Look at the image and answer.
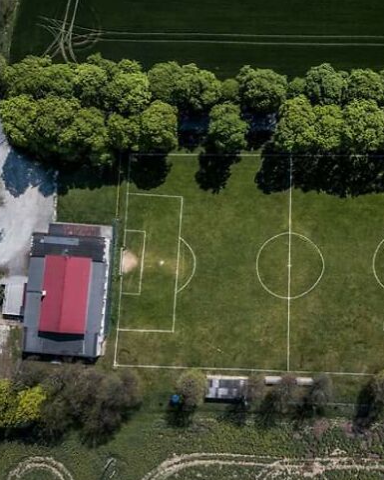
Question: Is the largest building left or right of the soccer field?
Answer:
to the left of it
